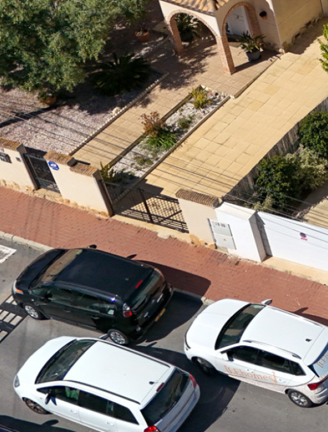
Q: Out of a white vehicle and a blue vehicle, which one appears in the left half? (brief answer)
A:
white vehicle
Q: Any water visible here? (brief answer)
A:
No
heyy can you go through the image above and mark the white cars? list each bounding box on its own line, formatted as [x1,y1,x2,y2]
[183,297,328,412]
[13,333,205,432]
